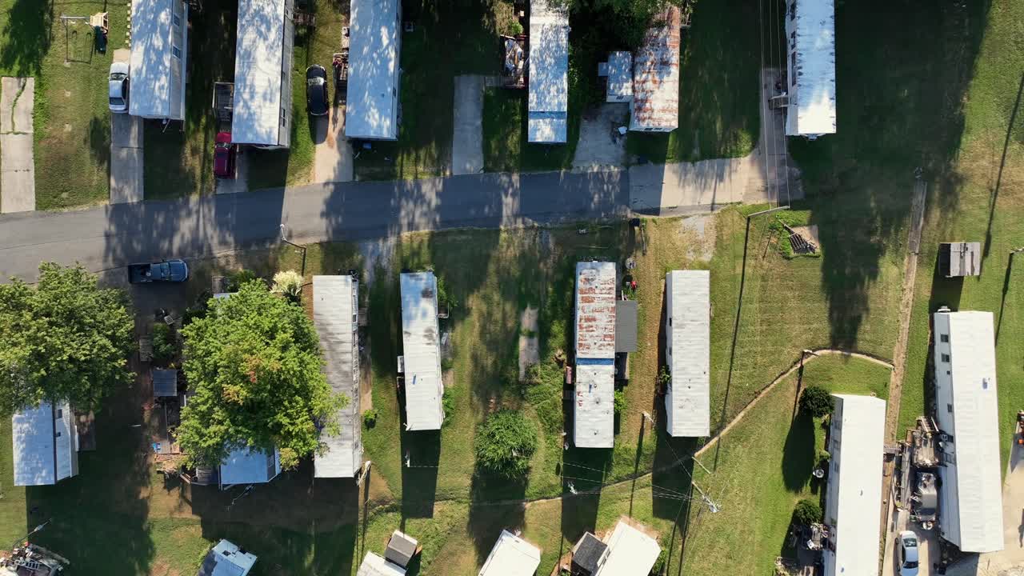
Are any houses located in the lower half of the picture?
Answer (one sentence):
Yes, the scene does show a house in the lower half of the picture.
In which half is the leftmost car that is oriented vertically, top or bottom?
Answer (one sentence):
You can find the leftmost car that is oriented vertically in the top half.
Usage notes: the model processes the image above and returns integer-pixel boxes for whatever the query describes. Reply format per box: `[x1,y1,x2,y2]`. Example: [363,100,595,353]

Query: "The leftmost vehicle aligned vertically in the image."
[107,64,129,114]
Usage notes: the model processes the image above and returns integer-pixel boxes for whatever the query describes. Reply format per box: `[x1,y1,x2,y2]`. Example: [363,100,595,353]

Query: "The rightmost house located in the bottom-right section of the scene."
[930,297,1004,553]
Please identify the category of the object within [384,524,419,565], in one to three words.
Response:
shed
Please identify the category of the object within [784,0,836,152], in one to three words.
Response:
house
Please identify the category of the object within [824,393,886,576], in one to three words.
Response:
house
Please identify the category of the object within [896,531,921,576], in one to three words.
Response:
car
